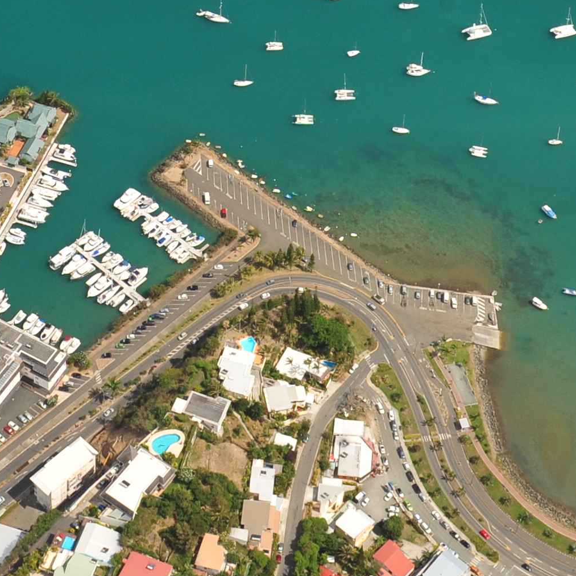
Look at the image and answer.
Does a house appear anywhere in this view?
Yes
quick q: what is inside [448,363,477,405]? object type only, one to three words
sports court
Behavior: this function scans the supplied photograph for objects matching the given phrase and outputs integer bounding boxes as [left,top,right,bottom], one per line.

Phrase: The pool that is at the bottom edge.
[60,535,75,551]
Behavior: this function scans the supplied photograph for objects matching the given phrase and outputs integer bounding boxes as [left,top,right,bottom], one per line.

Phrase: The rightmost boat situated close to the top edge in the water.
[550,8,576,38]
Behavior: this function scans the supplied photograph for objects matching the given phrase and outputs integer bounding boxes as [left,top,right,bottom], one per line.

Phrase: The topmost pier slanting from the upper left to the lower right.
[131,208,210,265]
